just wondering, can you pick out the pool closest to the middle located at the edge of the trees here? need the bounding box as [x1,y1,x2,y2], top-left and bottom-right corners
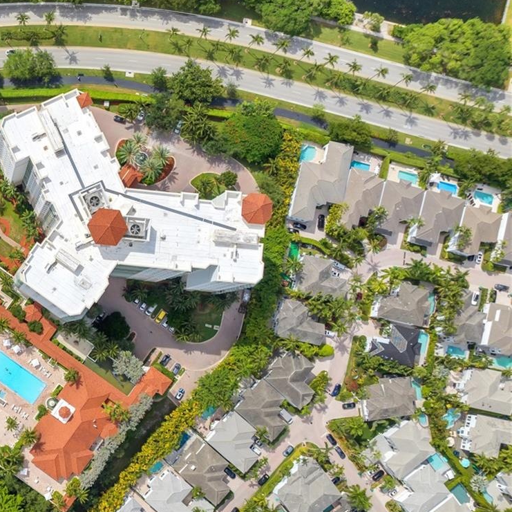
[287,241,300,259]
